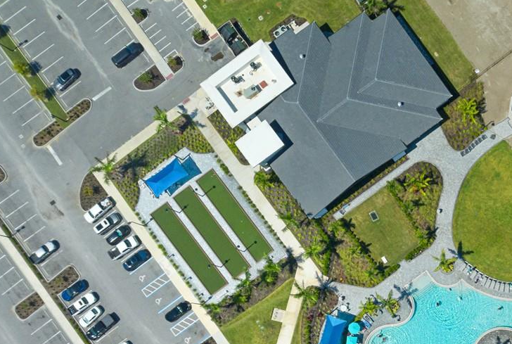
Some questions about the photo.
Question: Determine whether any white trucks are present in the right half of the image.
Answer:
No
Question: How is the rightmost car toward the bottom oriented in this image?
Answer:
diagonally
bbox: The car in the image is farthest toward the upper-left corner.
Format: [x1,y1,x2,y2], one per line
[54,68,81,90]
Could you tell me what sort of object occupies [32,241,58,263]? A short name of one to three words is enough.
car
